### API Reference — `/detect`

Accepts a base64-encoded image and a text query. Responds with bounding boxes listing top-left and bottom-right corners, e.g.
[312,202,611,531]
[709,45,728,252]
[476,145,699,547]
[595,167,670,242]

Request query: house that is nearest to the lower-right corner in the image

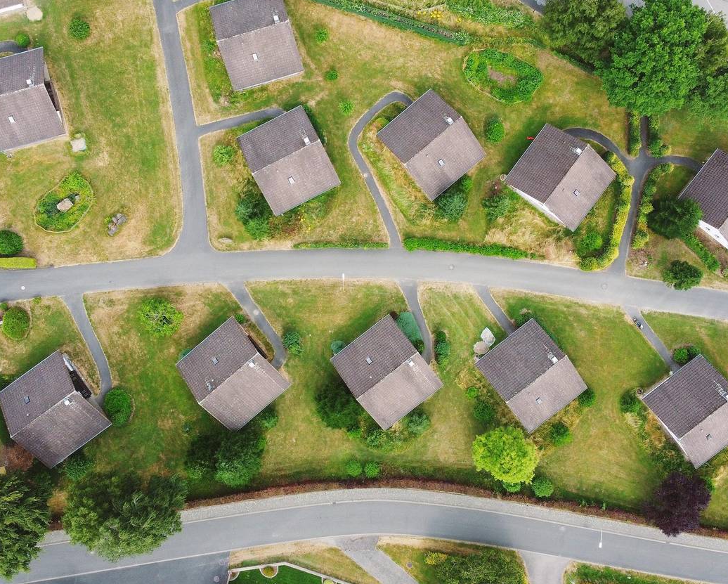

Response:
[640,353,728,468]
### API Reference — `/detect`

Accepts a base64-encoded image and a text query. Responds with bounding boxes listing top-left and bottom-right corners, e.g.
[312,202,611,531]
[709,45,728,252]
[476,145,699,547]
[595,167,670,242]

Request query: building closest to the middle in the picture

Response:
[331,314,443,429]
